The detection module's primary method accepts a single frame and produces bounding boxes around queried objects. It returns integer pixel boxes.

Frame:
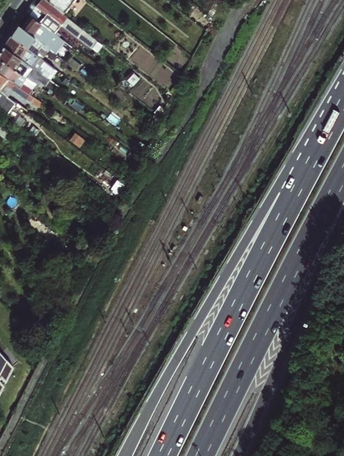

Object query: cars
[176,434,184,446]
[254,276,262,288]
[239,310,246,320]
[272,321,280,333]
[158,432,166,442]
[282,224,290,234]
[286,177,294,188]
[226,334,234,346]
[317,155,326,167]
[224,316,232,326]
